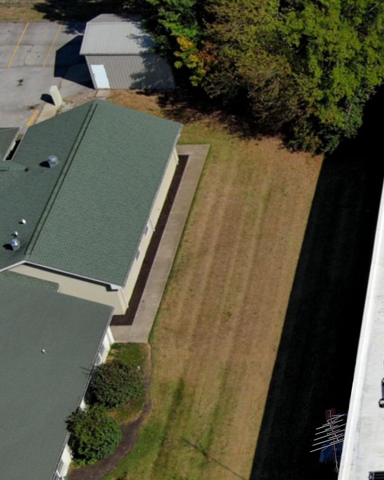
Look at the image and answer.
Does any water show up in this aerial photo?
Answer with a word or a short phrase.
No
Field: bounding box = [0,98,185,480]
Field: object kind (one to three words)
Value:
building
